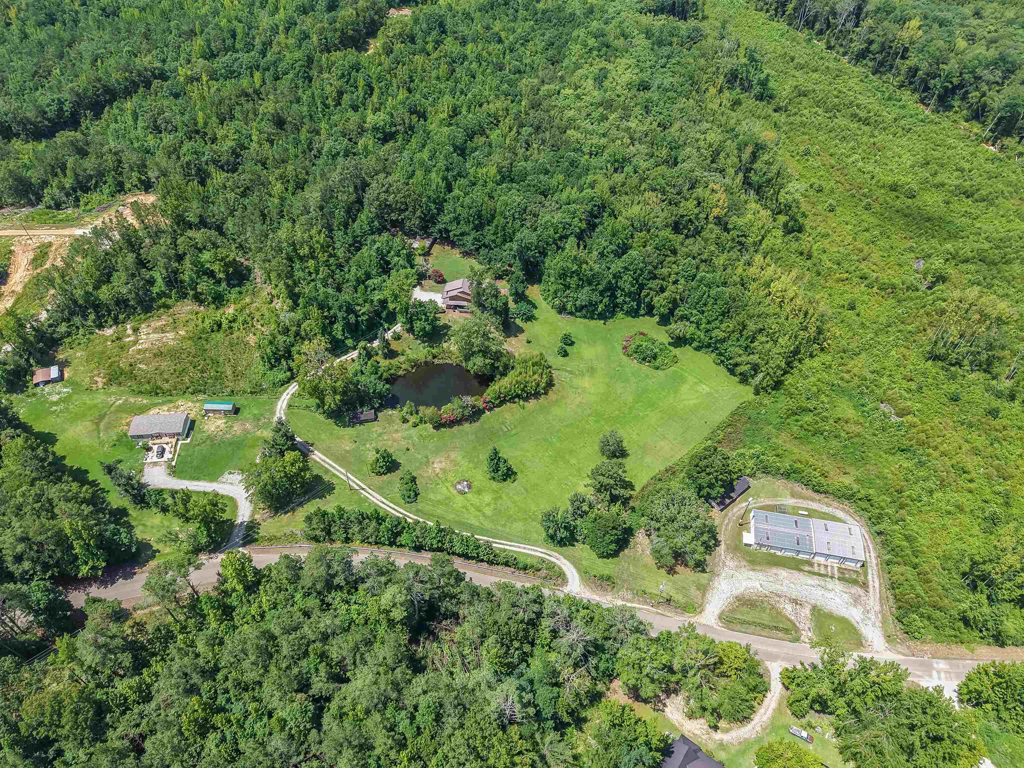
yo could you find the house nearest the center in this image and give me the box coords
[441,270,483,310]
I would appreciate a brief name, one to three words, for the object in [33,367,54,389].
shed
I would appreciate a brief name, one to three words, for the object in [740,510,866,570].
building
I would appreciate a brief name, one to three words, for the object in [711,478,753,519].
shed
